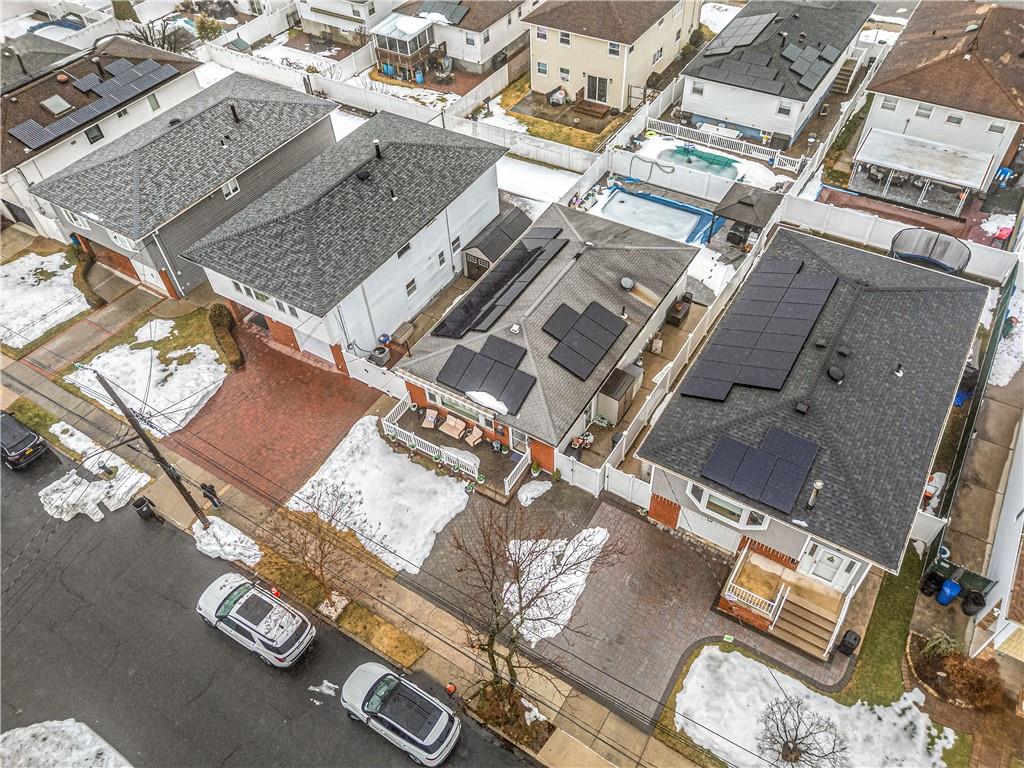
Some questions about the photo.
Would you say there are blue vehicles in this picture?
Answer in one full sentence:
No, there isn't any blue vehicle down there.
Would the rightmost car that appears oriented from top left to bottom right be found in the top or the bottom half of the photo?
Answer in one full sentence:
It is in the bottom half that the rightmost car that appears oriented from top left to bottom right appears.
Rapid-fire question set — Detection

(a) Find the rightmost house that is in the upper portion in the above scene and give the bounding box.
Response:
[857,0,1024,164]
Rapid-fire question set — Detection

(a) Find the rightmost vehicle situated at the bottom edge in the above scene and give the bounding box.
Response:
[335,658,467,768]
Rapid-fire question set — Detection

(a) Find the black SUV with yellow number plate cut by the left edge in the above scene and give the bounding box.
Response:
[0,400,47,468]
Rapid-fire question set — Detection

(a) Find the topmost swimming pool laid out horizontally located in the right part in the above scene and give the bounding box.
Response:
[643,145,749,184]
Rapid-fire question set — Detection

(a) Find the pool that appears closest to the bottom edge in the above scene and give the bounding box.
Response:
[593,182,735,248]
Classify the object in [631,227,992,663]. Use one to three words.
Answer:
house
